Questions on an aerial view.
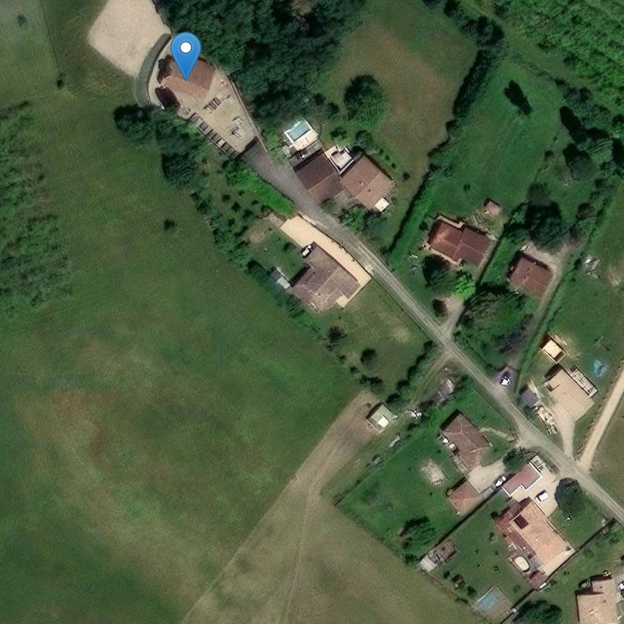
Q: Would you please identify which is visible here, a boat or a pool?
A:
pool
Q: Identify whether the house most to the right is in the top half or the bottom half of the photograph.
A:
bottom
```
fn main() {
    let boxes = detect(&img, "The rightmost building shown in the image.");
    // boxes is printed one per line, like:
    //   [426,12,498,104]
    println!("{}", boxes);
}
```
[577,580,622,624]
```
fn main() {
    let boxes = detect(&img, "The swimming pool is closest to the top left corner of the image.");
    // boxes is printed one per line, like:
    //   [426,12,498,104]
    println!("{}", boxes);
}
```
[284,119,318,150]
